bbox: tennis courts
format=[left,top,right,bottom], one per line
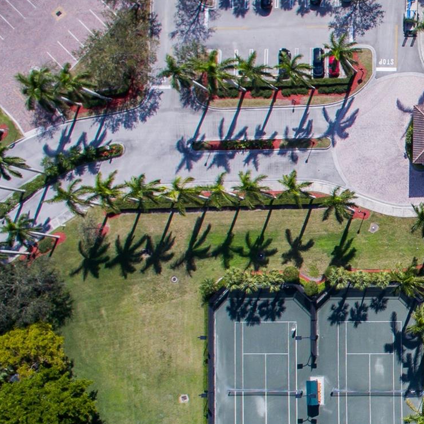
[215,286,319,424]
[319,286,422,424]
